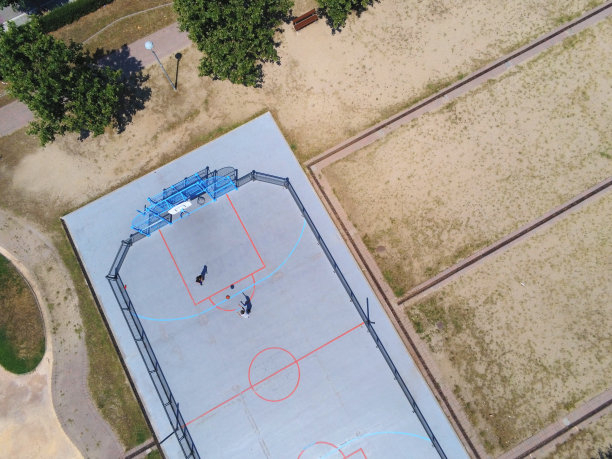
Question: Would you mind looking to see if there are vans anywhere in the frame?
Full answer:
No, no van is visible in the view.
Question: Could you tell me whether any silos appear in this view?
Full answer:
No, there isn't any silo down there.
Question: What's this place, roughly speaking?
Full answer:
What you see here is a sports ground.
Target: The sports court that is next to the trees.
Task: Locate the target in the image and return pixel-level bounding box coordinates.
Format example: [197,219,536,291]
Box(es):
[63,111,470,459]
